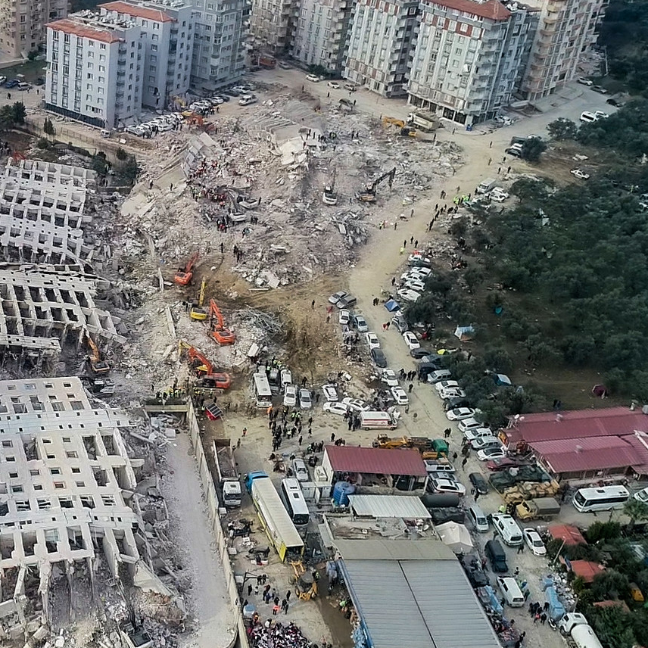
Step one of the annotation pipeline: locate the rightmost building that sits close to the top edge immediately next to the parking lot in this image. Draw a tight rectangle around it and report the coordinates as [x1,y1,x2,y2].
[511,0,611,92]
